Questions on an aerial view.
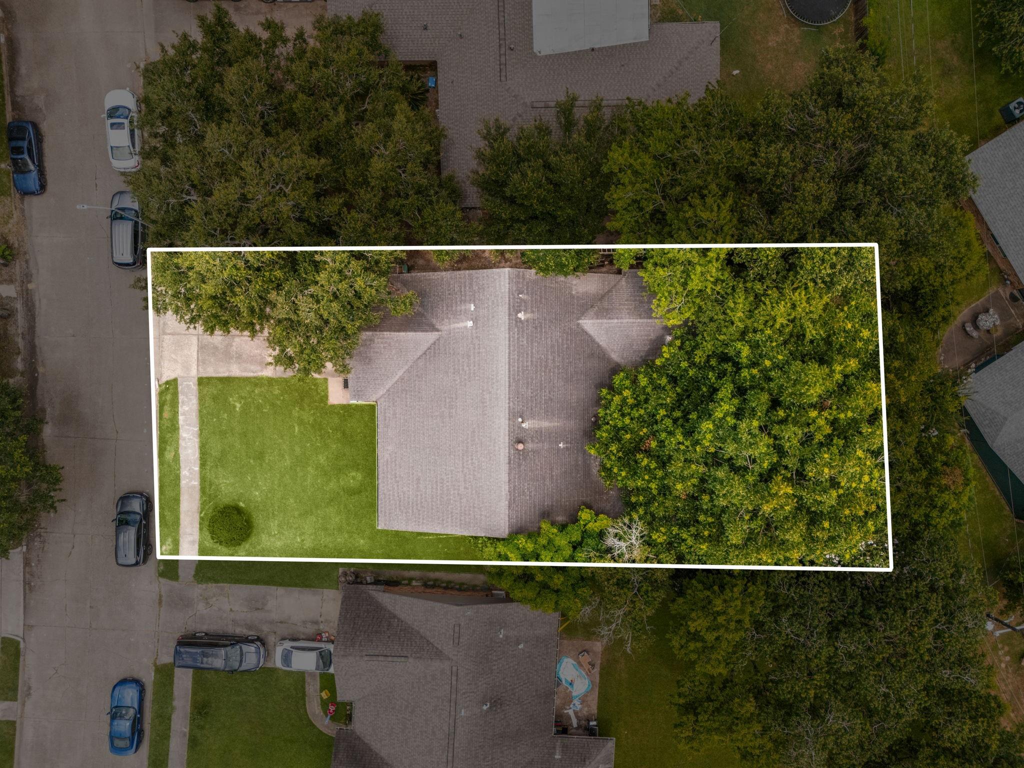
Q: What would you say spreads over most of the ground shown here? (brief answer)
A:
trees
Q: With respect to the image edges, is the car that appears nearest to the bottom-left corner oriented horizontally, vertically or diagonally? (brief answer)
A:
vertically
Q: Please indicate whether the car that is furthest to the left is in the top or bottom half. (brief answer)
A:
top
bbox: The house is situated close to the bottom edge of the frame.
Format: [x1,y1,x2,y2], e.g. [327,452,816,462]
[329,580,617,768]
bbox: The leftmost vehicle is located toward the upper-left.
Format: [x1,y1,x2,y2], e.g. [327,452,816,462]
[5,118,51,198]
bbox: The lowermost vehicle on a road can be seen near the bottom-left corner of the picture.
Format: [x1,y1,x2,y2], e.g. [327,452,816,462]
[106,673,151,757]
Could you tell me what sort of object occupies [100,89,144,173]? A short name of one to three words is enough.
car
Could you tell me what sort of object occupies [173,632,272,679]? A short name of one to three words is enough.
car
